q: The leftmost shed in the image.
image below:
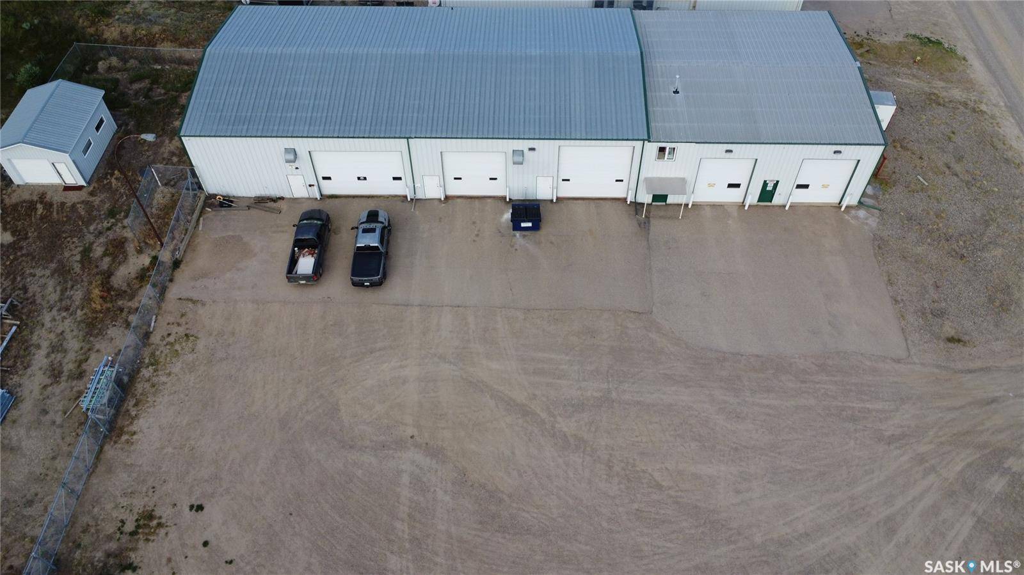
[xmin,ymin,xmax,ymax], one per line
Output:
[0,83,116,191]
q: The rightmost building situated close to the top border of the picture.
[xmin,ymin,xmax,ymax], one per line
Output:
[633,8,889,217]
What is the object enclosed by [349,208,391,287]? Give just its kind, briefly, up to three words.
truck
